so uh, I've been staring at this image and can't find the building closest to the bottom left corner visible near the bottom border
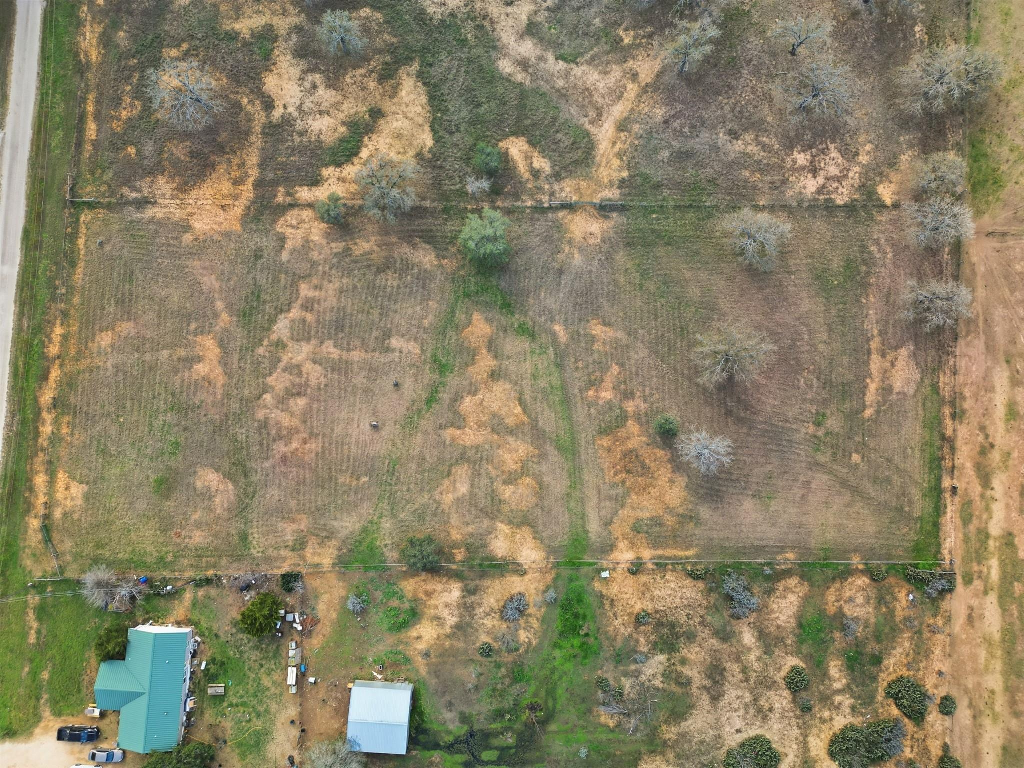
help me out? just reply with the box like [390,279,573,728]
[94,623,193,755]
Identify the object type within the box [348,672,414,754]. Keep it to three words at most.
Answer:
shed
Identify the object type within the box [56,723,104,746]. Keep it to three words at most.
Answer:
truck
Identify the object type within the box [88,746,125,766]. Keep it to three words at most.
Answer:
car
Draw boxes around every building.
[94,623,193,755]
[348,672,414,754]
